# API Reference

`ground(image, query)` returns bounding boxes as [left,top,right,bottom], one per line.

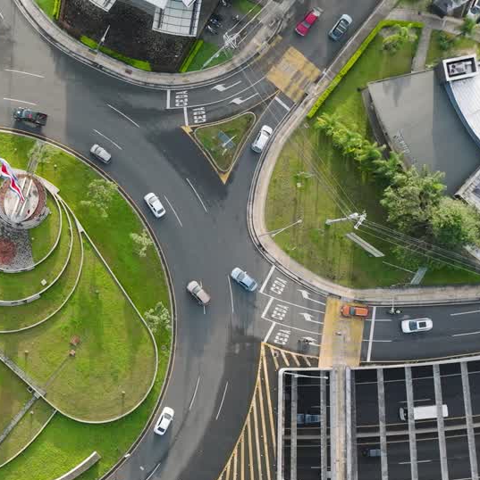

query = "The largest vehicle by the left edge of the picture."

[13,108,48,126]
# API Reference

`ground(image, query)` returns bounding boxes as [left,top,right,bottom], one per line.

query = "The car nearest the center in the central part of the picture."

[229,266,258,291]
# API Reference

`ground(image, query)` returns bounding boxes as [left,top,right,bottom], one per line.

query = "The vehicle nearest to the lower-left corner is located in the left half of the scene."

[153,406,174,435]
